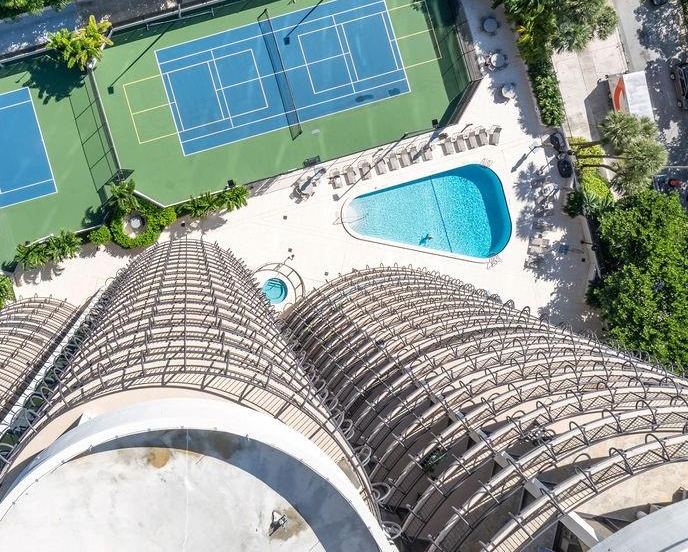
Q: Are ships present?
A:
No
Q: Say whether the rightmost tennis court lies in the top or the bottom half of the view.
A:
top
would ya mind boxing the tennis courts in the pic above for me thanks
[0,44,123,277]
[92,0,481,206]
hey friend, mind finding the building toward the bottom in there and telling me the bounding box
[0,231,688,552]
